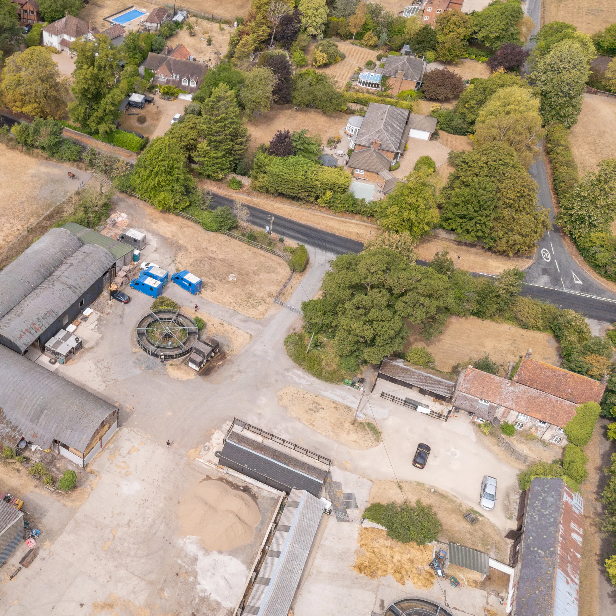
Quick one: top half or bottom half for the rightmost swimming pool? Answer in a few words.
top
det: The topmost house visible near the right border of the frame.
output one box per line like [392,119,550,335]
[449,345,611,448]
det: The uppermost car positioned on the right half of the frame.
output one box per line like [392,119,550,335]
[415,439,434,469]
